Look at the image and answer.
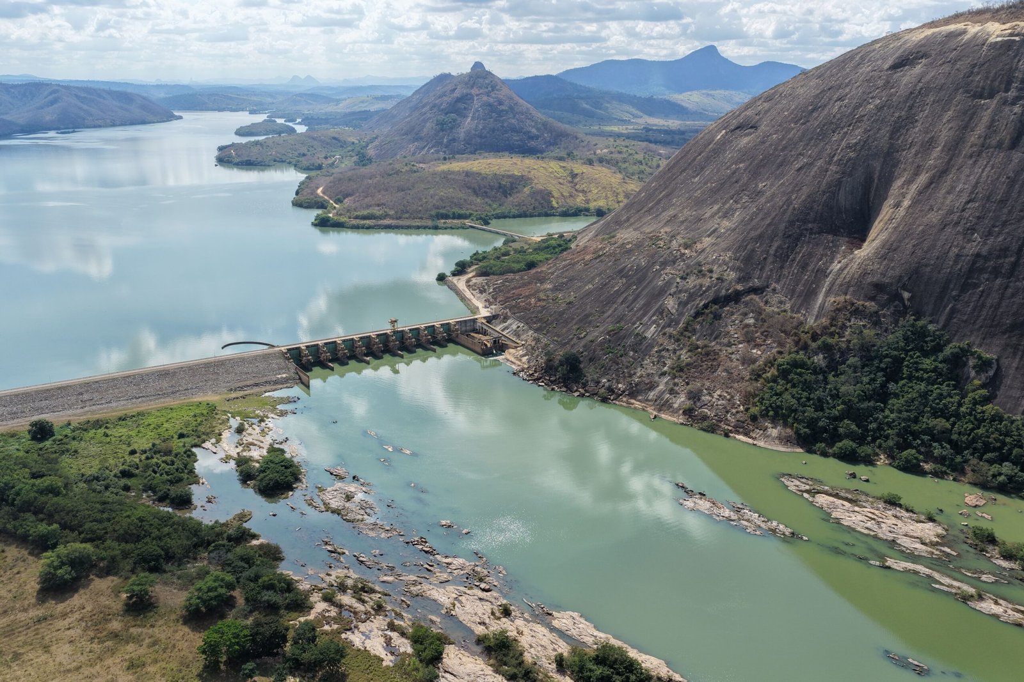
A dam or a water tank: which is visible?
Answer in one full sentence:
This aerial view contains a dam.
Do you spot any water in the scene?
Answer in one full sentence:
Yes, some water is visible.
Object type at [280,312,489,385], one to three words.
dam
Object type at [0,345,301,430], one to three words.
dam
